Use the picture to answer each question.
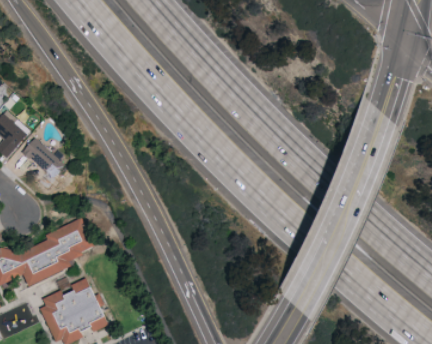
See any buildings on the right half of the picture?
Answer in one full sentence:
No, the scene shows no building on the right half of the picture.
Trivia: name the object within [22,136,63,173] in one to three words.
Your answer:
house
